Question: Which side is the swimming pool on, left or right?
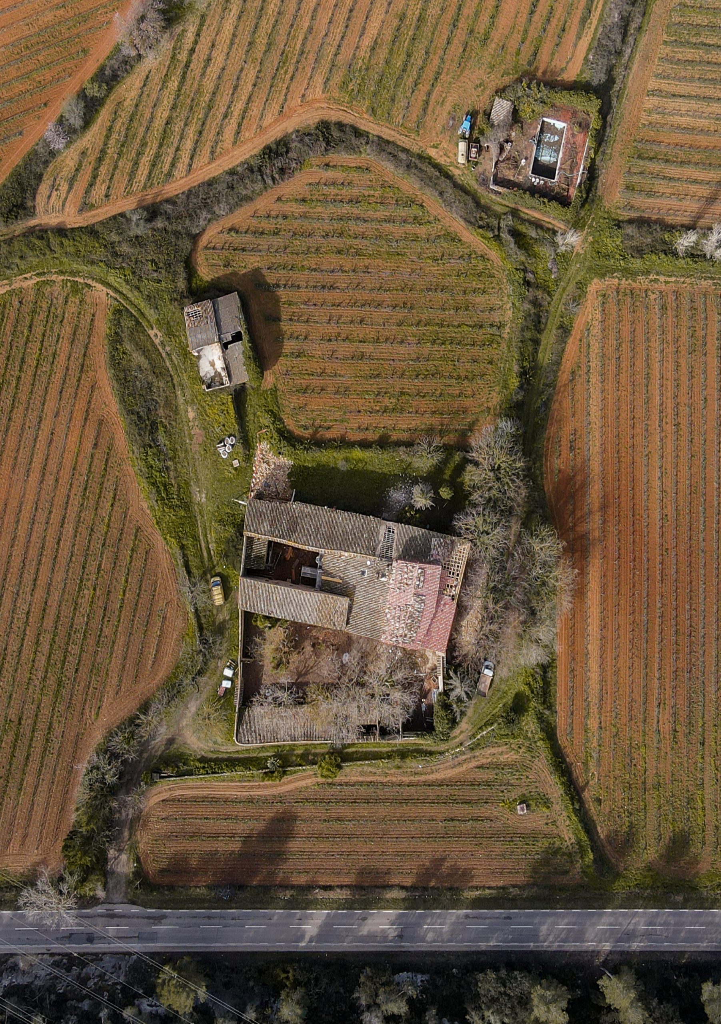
right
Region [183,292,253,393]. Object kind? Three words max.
house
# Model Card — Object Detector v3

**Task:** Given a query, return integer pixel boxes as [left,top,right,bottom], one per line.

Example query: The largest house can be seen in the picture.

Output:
[232,489,471,653]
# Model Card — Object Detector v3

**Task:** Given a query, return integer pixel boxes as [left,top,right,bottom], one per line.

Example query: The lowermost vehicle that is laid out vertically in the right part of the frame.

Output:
[476,660,496,700]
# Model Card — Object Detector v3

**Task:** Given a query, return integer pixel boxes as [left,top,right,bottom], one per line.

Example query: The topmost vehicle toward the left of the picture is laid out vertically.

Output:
[209,576,224,607]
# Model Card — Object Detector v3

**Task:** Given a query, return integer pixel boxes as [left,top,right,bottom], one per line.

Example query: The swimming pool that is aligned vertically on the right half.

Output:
[531,117,567,181]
